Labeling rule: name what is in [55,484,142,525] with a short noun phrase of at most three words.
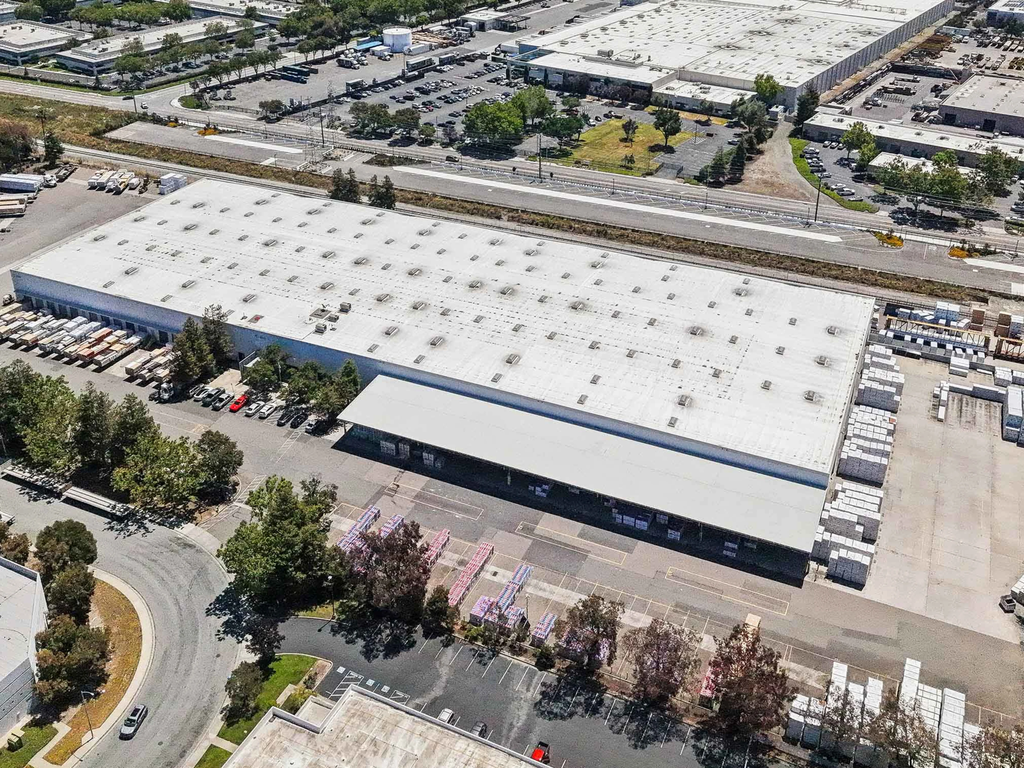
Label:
trailer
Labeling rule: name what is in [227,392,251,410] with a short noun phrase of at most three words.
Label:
car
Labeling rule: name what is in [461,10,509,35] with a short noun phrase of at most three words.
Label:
building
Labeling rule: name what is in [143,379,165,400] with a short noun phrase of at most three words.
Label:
truck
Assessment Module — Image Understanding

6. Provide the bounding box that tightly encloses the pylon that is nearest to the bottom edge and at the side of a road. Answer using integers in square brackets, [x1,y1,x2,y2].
[296,120,328,172]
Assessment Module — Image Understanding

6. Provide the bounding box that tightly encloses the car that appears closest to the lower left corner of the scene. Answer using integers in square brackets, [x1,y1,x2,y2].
[114,699,152,740]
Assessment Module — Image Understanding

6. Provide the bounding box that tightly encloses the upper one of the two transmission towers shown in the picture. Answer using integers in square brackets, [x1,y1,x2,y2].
[318,78,343,125]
